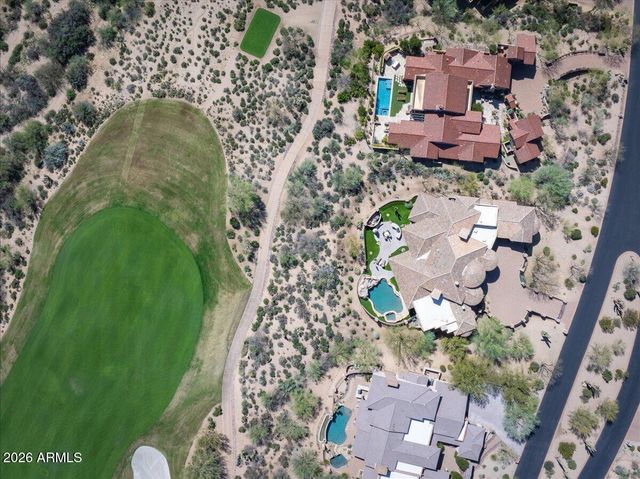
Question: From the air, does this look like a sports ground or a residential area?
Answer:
residential area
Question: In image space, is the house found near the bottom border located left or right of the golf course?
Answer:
right of it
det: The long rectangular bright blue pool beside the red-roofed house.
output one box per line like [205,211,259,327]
[374,76,392,118]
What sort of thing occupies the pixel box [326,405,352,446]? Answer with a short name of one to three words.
swimming pool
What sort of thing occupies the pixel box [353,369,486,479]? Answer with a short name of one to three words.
house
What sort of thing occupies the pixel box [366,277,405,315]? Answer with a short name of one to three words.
swimming pool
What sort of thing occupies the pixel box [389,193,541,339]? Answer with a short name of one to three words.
house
